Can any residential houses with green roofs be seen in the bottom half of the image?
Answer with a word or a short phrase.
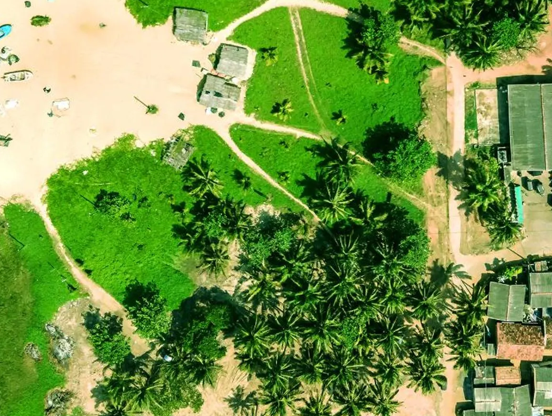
Yes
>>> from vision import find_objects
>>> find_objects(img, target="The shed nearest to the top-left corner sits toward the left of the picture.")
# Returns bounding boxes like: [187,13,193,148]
[174,7,208,43]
